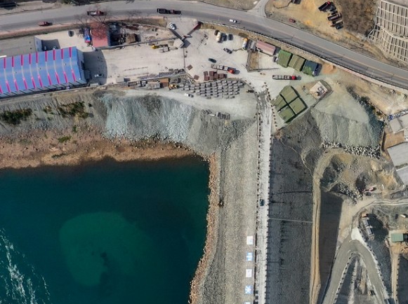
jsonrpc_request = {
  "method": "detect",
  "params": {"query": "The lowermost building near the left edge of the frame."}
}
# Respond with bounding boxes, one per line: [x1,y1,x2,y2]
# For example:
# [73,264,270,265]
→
[0,47,88,103]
